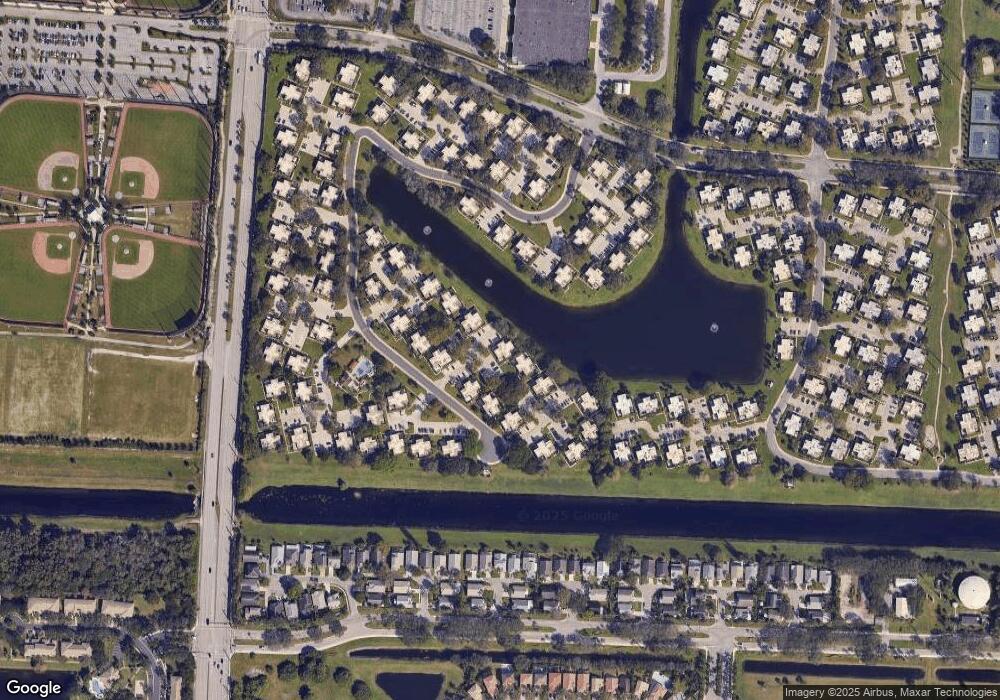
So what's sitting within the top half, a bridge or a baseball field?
baseball field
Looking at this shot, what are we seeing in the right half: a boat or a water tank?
water tank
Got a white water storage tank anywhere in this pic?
Yes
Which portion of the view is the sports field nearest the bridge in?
left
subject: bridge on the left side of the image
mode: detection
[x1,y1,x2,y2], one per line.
[195,488,236,516]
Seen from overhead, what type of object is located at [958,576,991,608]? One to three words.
water tank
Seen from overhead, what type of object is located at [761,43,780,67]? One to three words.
house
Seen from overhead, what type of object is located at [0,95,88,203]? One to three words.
baseball field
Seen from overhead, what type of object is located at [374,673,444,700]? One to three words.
pond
